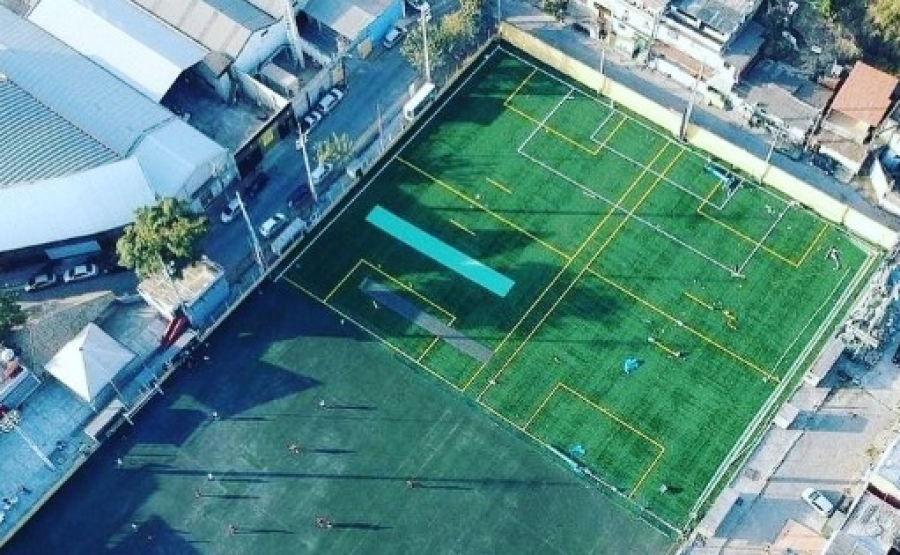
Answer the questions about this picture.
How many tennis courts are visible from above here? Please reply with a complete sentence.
I count no tennis courts.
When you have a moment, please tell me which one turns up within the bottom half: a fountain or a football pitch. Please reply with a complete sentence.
The one visible within the bottom half is a football pitch.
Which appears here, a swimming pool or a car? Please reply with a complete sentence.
This aerial view contains a car.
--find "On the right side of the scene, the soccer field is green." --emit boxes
[272,44,888,548]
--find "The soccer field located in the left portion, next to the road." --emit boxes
[1,276,684,555]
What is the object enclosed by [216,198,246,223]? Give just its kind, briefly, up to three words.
car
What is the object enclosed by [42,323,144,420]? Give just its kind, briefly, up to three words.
tent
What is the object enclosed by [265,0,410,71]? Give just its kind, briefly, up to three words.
building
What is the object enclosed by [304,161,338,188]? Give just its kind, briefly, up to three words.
truck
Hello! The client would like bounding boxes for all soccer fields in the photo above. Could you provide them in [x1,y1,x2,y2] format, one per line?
[1,276,684,555]
[272,44,888,548]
